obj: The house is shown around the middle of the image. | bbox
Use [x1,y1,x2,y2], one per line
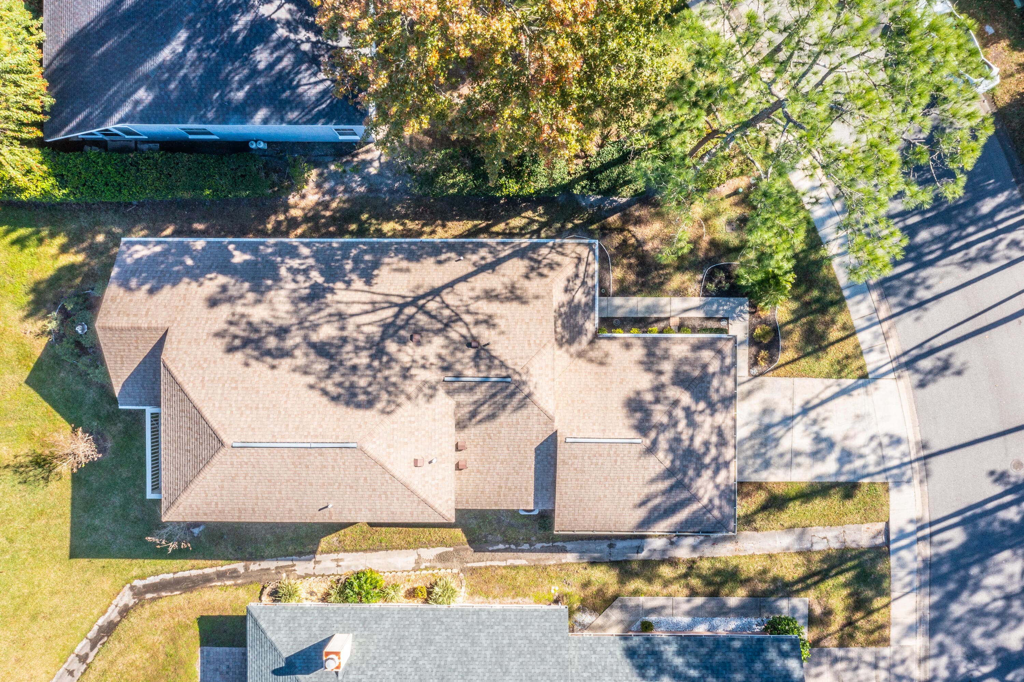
[95,236,739,535]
